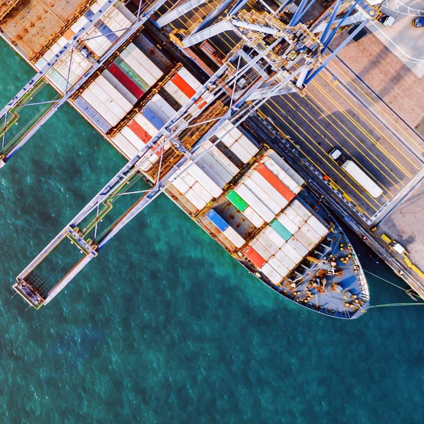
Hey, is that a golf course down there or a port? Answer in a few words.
port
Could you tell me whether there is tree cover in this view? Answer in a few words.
No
